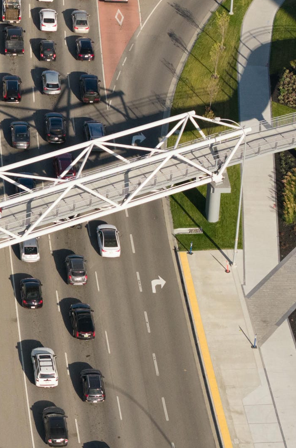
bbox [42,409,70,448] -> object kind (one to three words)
car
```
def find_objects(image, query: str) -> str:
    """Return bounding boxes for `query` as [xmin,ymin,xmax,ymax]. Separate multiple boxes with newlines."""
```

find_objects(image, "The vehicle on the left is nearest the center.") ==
[96,227,121,259]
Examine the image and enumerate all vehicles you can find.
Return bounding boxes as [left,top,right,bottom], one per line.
[2,0,22,23]
[64,255,90,290]
[79,77,101,104]
[70,306,95,343]
[79,369,106,408]
[42,409,70,448]
[75,40,95,64]
[1,77,23,104]
[59,215,80,232]
[3,26,25,57]
[38,41,57,66]
[96,227,121,259]
[20,280,44,313]
[82,123,106,154]
[53,154,76,184]
[44,116,67,144]
[71,11,91,35]
[19,234,42,265]
[8,124,30,152]
[39,10,58,34]
[41,73,61,98]
[31,351,58,391]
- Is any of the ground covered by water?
No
